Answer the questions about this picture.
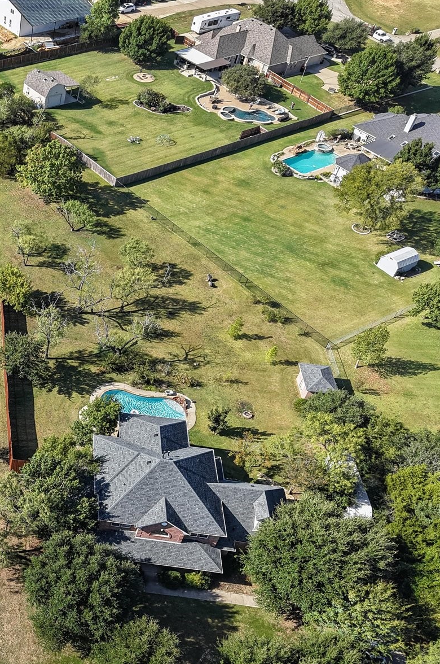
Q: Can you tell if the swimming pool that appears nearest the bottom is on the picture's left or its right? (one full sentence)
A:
The swimming pool that appears nearest the bottom appears in the left half of the scene.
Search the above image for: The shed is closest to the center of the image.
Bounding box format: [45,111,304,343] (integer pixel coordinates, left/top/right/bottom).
[294,364,335,407]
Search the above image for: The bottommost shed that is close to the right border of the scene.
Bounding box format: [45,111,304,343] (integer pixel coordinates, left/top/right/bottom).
[377,243,421,277]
